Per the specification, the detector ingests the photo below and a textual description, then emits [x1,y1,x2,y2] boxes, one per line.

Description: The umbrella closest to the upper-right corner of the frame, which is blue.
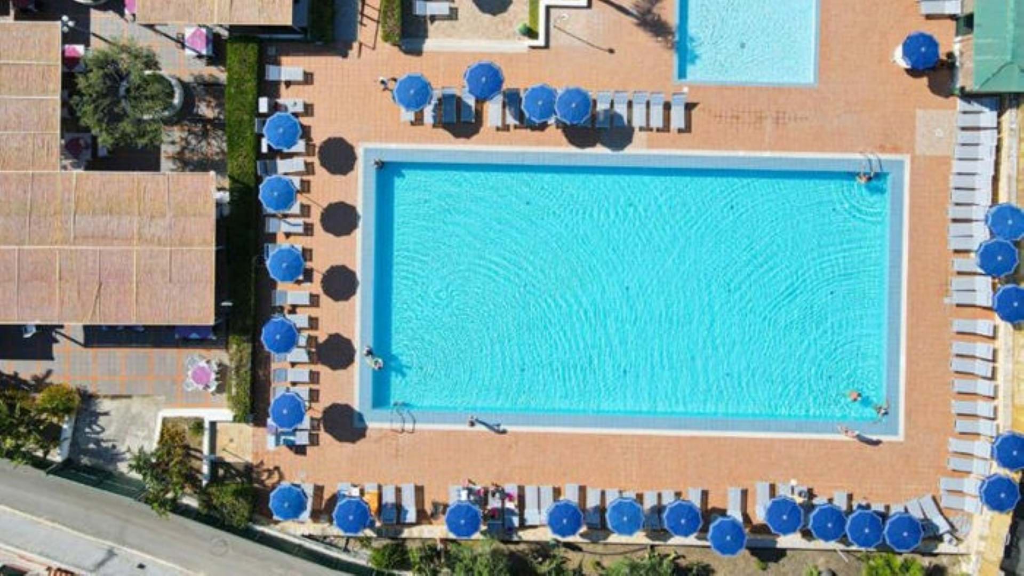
[893,33,936,72]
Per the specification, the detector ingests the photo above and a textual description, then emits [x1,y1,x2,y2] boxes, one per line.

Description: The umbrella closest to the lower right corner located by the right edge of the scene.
[970,472,1015,511]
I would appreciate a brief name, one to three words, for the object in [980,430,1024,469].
umbrella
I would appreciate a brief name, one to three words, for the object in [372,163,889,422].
swimming pool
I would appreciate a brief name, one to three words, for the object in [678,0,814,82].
swimming pool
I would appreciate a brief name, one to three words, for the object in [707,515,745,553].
umbrella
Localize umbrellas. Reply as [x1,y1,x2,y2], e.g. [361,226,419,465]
[261,176,298,213]
[271,481,309,518]
[967,238,1012,277]
[982,284,1024,323]
[980,430,1024,469]
[844,509,880,547]
[466,63,503,102]
[762,495,801,533]
[262,316,300,353]
[272,390,309,427]
[521,87,557,124]
[970,472,1015,511]
[267,114,303,150]
[547,498,583,535]
[707,515,745,553]
[395,76,432,113]
[663,497,701,535]
[444,499,482,537]
[270,245,306,282]
[605,496,642,533]
[882,511,920,549]
[807,506,845,543]
[893,33,936,72]
[334,494,373,532]
[981,202,1023,241]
